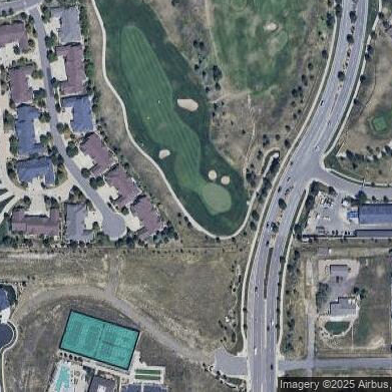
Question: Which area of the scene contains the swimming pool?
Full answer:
Look in the bottom left portion of the view to spot the swimming pool.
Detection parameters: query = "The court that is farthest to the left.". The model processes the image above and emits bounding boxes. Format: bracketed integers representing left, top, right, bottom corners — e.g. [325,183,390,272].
[61,311,139,369]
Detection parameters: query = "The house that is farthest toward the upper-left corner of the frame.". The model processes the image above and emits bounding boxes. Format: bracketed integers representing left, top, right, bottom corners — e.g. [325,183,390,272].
[0,22,23,47]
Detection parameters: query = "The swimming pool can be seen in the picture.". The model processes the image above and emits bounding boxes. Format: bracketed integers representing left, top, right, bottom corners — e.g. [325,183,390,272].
[51,360,88,392]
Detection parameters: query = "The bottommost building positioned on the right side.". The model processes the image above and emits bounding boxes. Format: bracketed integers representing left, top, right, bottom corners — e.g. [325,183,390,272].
[329,297,357,316]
